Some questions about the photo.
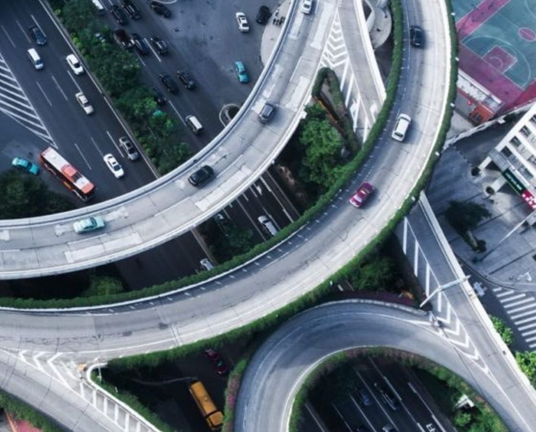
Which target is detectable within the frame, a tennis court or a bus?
bus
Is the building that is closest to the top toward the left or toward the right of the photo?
right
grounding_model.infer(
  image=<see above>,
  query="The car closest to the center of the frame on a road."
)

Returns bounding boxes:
[255,210,278,237]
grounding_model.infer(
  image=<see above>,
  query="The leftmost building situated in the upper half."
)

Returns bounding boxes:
[454,69,506,128]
